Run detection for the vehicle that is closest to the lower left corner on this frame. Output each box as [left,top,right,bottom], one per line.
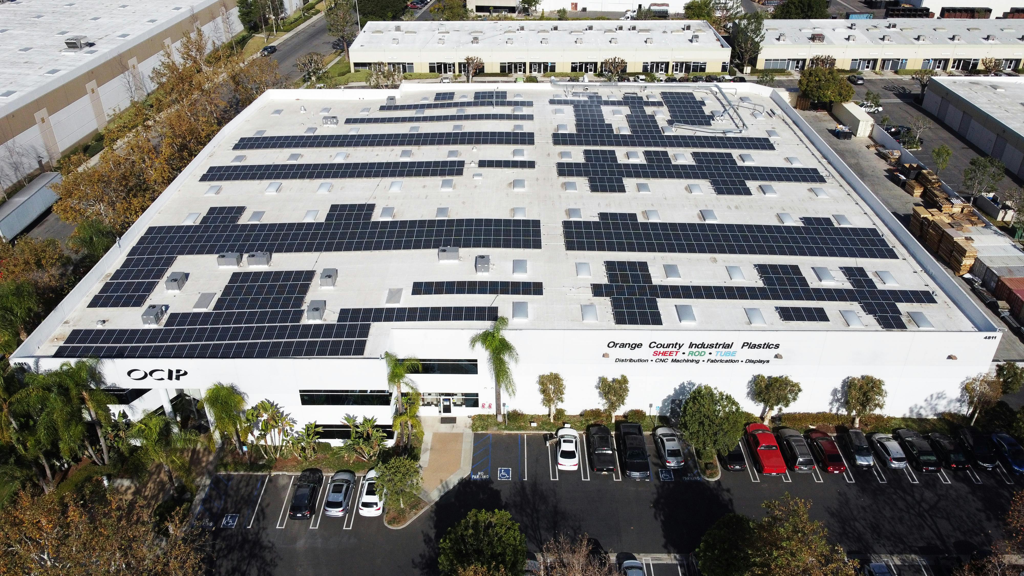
[286,470,323,518]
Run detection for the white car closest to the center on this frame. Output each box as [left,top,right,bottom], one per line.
[546,428,580,470]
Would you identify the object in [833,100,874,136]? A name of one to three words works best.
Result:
shipping container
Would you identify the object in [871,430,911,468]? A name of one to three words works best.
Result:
car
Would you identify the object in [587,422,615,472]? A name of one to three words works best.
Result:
truck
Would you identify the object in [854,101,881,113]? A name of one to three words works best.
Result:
vehicle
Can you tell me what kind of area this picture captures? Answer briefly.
industrial area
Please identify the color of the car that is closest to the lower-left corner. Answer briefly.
black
